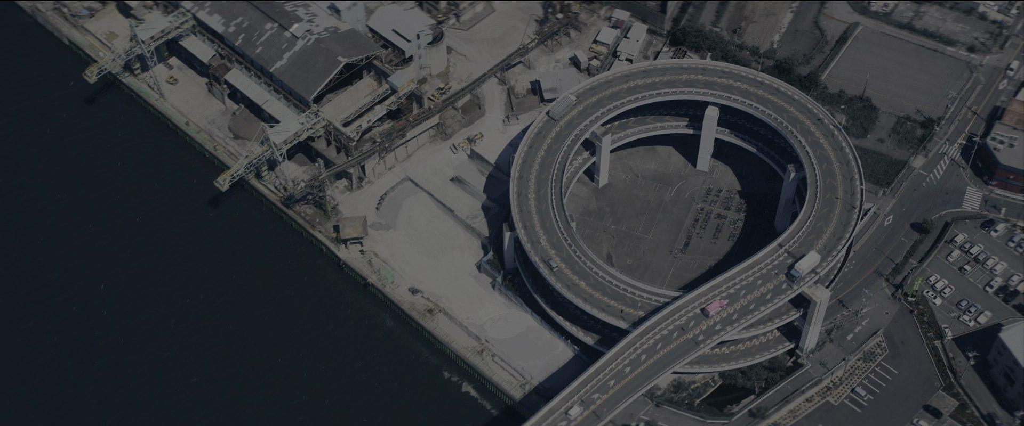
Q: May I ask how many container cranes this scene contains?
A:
2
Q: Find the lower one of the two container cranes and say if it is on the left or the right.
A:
left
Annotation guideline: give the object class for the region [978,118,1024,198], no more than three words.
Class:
building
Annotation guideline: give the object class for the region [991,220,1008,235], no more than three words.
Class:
car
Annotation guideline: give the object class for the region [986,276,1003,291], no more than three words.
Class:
car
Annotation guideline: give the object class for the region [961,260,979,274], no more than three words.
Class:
vehicle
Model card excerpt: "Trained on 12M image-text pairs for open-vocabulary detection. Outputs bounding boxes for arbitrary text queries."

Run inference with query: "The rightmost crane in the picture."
[210,104,338,206]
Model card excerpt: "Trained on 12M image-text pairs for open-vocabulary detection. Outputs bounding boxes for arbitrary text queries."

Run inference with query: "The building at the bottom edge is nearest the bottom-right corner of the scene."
[985,322,1024,413]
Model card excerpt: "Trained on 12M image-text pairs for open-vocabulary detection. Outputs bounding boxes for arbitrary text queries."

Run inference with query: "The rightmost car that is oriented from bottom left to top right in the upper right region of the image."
[1008,58,1020,73]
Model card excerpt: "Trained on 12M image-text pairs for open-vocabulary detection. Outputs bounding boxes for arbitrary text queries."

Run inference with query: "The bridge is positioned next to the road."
[502,58,871,426]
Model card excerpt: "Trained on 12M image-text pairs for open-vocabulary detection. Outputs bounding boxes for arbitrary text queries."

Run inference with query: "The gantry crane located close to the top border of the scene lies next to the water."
[80,8,204,102]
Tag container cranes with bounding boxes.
[210,104,338,206]
[80,8,204,102]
